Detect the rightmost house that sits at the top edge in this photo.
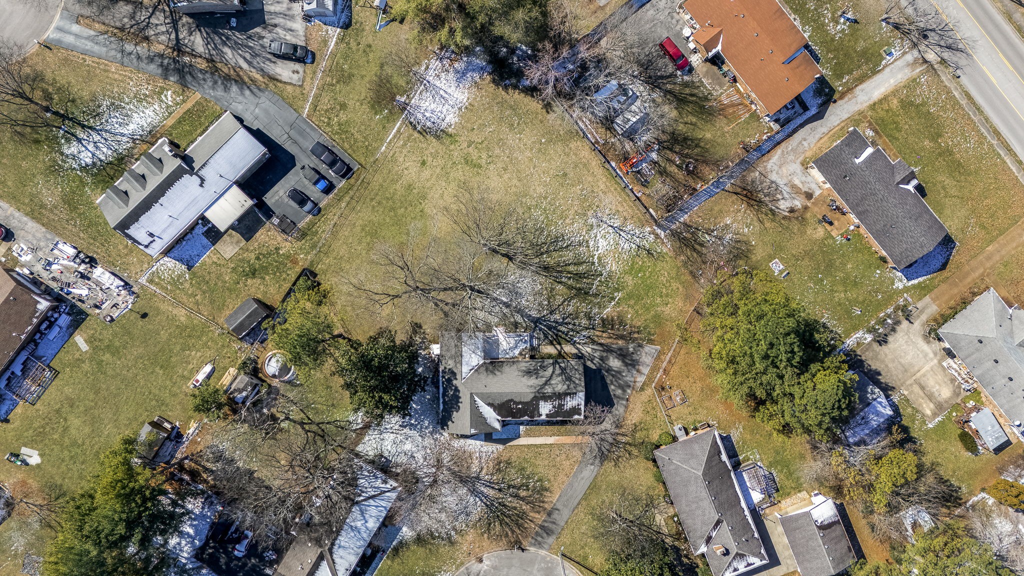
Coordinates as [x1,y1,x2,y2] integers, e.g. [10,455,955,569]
[673,0,823,115]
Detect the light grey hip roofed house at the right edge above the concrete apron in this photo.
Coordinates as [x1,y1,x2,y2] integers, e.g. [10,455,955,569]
[935,287,1024,450]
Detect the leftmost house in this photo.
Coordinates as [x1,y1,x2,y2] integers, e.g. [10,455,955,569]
[0,268,57,379]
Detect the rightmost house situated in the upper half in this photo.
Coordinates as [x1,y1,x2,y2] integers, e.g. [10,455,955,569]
[808,127,948,270]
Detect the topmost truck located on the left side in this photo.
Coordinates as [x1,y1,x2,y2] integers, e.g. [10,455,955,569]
[265,40,310,61]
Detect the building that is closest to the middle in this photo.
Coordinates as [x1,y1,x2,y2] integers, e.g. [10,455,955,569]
[439,331,585,434]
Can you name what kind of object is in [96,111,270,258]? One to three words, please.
house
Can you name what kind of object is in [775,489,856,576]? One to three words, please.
building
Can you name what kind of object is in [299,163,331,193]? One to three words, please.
car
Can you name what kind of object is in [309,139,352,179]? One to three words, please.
truck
